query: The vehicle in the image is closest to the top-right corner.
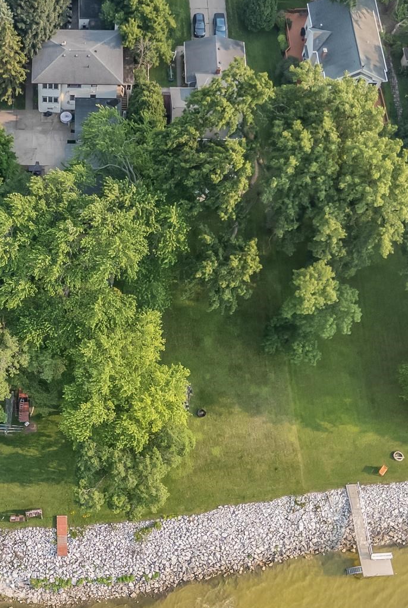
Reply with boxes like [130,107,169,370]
[213,13,228,36]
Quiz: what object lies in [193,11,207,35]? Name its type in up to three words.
car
